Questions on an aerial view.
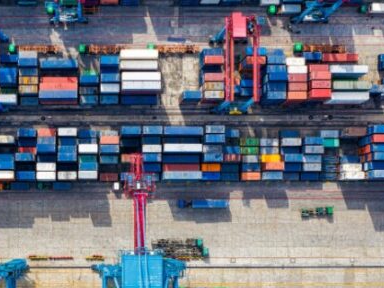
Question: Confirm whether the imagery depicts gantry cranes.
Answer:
Yes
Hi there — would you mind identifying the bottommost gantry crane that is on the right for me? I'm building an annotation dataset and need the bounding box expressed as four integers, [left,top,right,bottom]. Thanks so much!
[207,13,260,118]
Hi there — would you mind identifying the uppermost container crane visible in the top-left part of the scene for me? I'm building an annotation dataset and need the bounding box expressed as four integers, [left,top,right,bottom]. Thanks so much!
[46,0,91,24]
